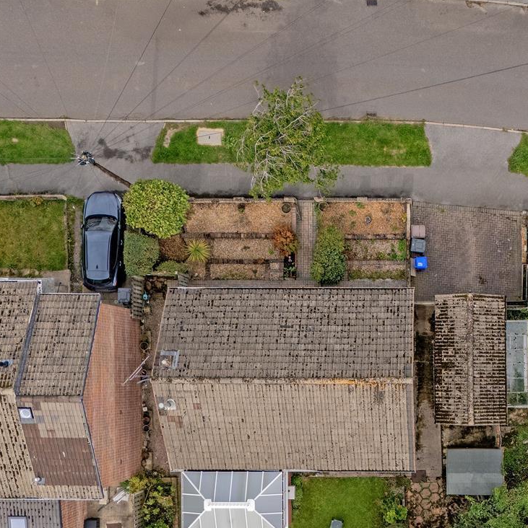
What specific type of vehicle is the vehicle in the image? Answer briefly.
car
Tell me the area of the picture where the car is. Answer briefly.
left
